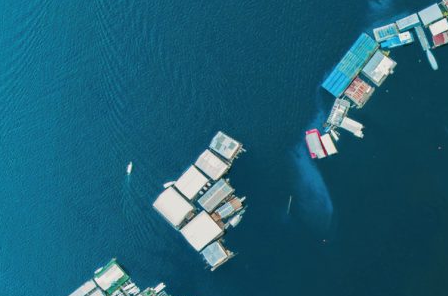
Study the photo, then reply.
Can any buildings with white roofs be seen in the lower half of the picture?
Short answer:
Yes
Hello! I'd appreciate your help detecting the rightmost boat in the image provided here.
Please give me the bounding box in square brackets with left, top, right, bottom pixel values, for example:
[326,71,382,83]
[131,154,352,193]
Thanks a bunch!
[425,48,437,70]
